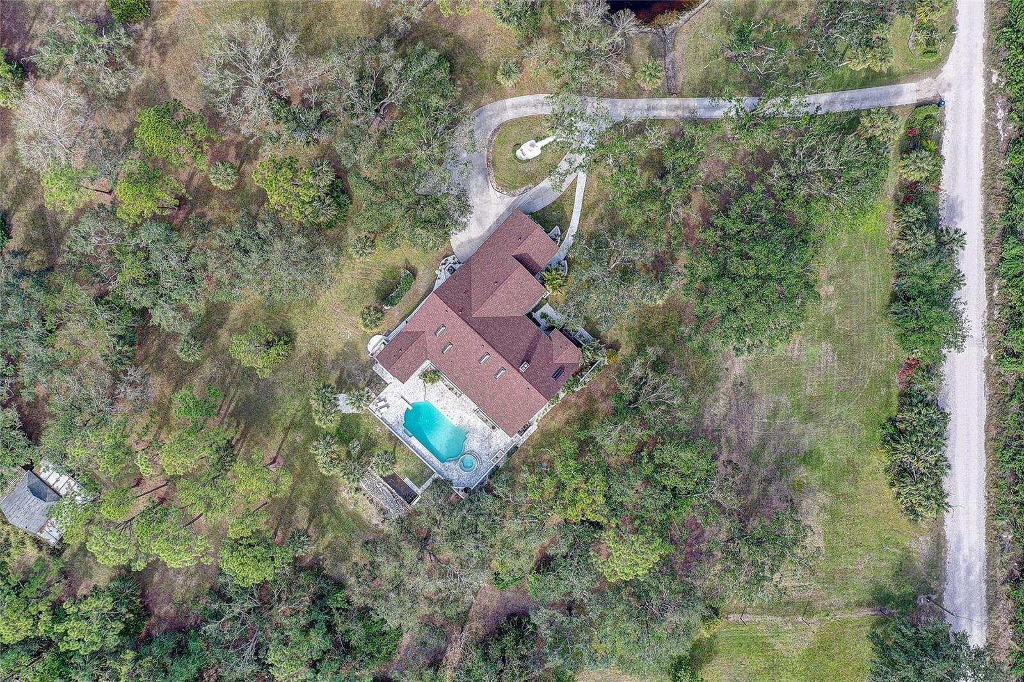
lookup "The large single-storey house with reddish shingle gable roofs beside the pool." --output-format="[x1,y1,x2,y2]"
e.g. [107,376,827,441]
[376,208,582,437]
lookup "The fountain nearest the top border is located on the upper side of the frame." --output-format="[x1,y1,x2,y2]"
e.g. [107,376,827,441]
[516,136,563,160]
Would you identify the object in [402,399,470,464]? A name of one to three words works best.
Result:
swimming pool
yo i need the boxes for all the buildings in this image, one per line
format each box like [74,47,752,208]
[0,471,66,534]
[376,208,582,437]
